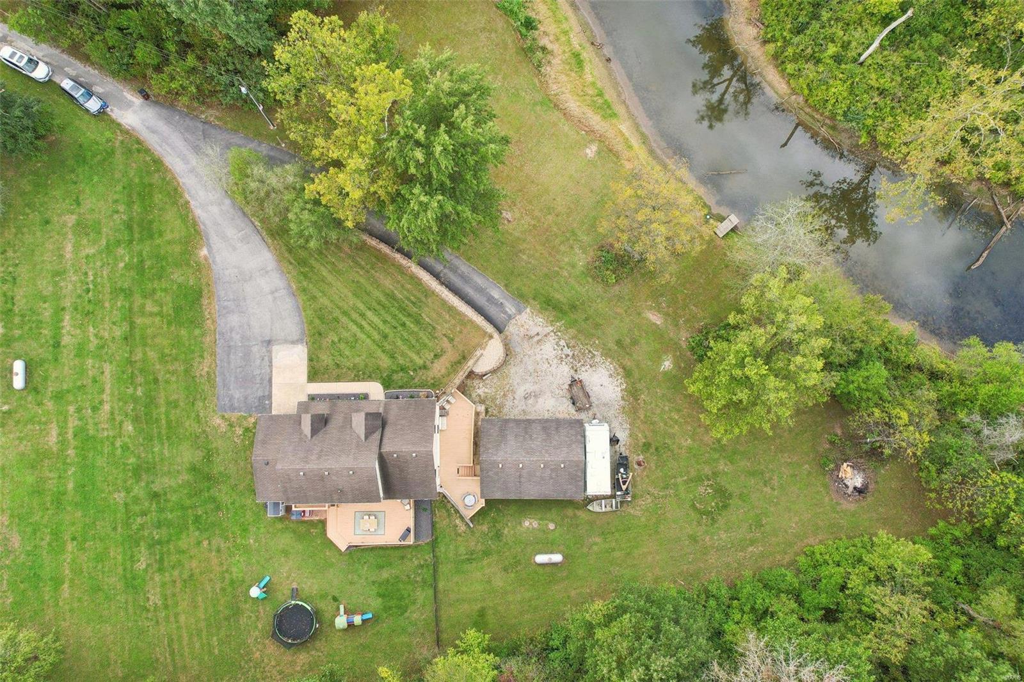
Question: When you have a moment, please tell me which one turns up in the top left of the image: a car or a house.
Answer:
car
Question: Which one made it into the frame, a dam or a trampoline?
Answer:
trampoline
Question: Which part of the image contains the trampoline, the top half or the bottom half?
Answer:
bottom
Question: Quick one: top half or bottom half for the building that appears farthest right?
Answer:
bottom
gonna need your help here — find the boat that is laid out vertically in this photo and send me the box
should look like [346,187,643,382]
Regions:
[616,453,632,500]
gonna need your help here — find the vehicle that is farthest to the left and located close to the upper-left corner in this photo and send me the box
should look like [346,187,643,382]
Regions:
[0,45,57,88]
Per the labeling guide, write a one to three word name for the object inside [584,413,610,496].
trailer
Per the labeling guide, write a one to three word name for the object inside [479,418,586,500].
building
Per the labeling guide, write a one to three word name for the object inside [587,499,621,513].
boat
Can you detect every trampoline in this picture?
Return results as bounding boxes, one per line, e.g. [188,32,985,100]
[266,584,320,652]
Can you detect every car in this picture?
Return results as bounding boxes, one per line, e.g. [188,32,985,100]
[54,73,113,117]
[0,45,57,88]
